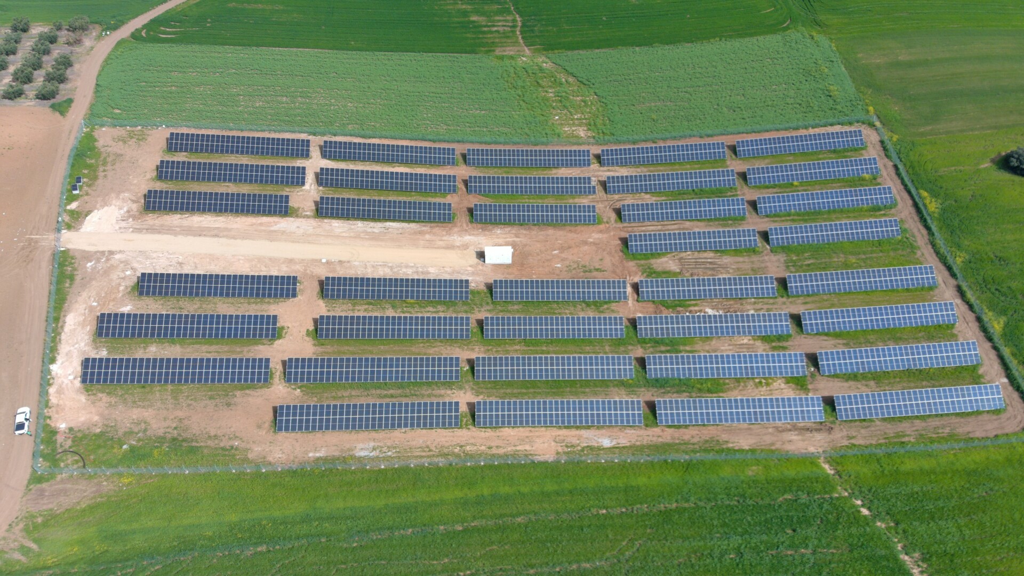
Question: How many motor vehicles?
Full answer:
The count comes to 1 motor vehicle.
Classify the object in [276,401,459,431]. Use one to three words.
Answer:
solar array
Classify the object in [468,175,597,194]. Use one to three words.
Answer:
solar array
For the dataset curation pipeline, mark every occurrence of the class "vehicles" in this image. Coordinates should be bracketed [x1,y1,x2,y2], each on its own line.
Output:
[14,407,35,436]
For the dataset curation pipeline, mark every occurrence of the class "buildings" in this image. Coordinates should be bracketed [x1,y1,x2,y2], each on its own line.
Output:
[484,245,513,264]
